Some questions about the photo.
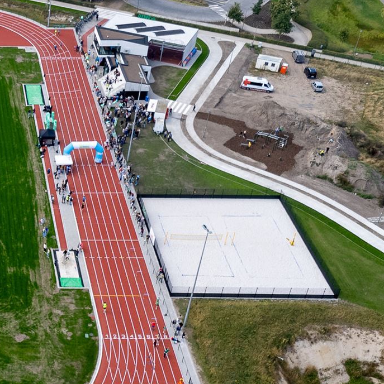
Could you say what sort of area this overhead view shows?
sports ground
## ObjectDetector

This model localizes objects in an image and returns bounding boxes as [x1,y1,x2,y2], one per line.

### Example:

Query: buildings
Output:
[94,13,197,99]
[255,55,283,72]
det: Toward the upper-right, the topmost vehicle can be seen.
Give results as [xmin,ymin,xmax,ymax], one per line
[293,50,305,62]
